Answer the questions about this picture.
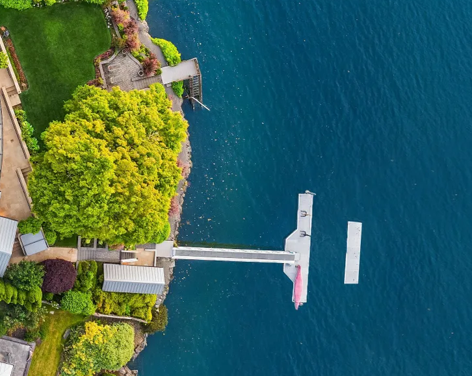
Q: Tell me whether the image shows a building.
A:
Yes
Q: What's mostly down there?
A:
water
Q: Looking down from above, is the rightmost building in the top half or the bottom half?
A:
bottom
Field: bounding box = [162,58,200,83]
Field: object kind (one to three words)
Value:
pier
